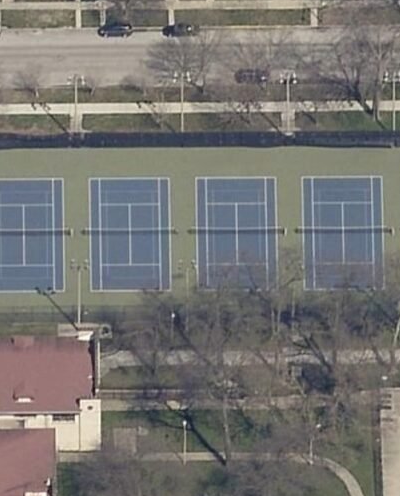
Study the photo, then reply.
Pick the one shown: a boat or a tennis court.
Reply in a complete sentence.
The one in the frame is a tennis court.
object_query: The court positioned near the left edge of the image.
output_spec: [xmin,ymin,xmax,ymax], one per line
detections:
[0,177,65,291]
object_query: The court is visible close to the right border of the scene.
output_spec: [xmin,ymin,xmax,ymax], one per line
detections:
[301,175,385,289]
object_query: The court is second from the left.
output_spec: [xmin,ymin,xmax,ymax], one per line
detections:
[89,177,172,291]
